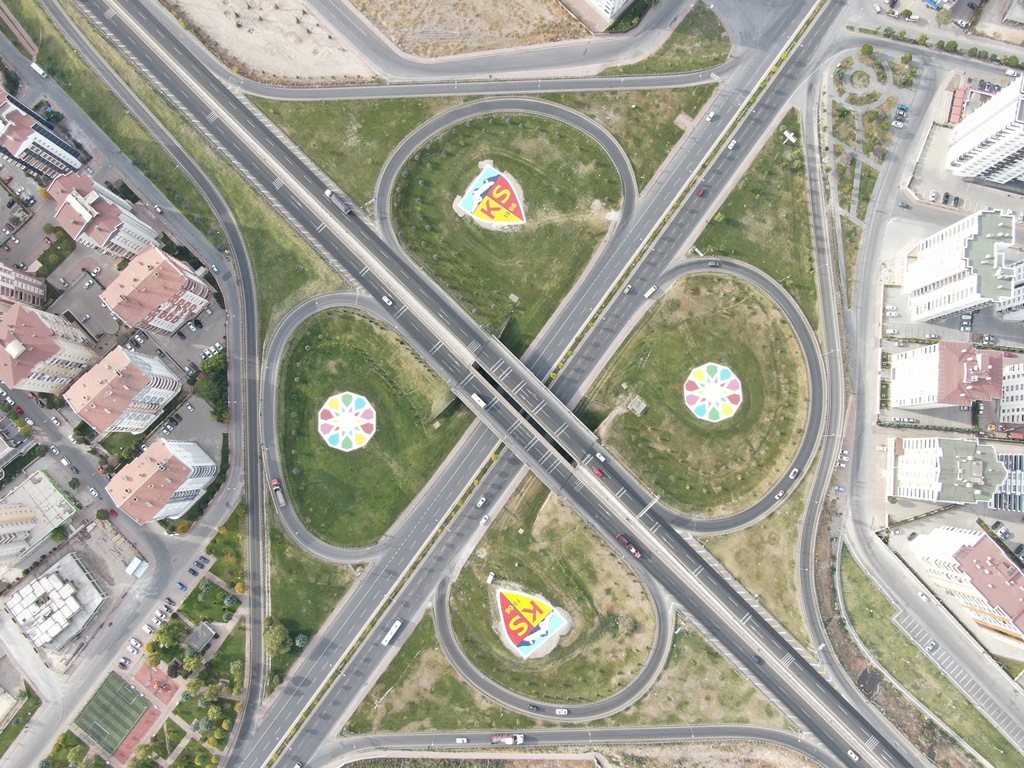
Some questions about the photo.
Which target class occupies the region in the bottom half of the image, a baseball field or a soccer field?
soccer field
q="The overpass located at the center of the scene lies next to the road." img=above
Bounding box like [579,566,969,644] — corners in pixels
[428,319,621,511]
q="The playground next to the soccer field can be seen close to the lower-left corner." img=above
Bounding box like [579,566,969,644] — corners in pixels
[135,665,181,706]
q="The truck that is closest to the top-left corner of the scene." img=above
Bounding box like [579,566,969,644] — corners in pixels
[26,58,49,79]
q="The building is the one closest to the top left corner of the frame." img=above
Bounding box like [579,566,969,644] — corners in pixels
[0,85,79,179]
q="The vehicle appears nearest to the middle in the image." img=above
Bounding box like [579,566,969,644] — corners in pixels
[469,391,488,410]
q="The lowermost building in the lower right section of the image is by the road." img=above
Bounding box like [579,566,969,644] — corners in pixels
[907,526,1024,645]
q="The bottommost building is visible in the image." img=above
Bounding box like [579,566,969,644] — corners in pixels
[0,673,28,723]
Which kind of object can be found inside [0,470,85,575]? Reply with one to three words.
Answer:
building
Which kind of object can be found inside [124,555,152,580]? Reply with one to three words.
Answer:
shed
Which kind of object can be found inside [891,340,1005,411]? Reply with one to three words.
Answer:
building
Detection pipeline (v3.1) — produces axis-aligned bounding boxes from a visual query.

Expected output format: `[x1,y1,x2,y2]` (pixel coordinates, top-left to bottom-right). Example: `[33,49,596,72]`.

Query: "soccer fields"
[68,671,150,761]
